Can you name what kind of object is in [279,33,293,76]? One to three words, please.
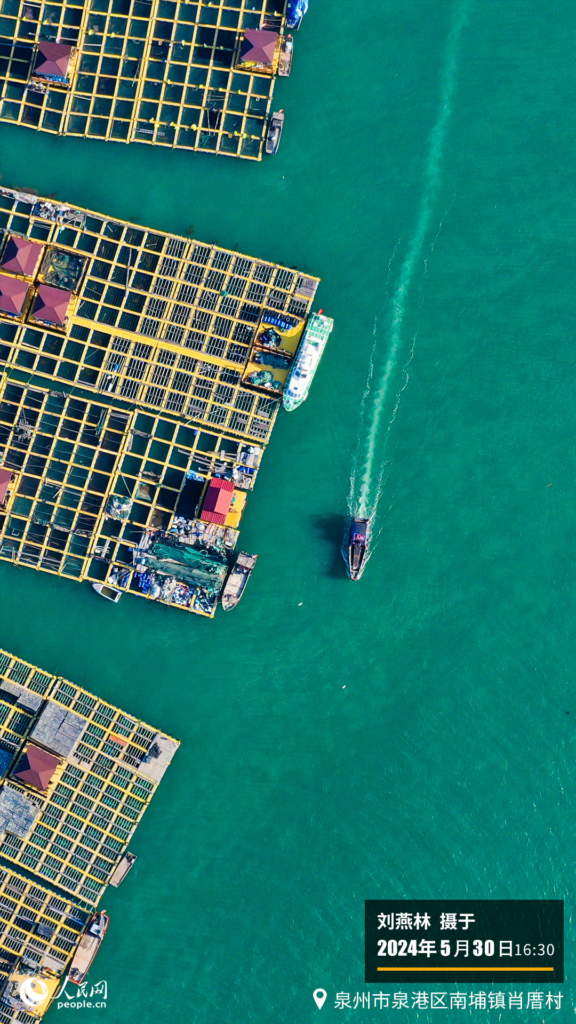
boat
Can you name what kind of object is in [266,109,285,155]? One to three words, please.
boat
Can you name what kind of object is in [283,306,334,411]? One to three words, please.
ship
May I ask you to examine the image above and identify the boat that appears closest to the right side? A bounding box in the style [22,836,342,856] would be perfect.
[349,517,369,581]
